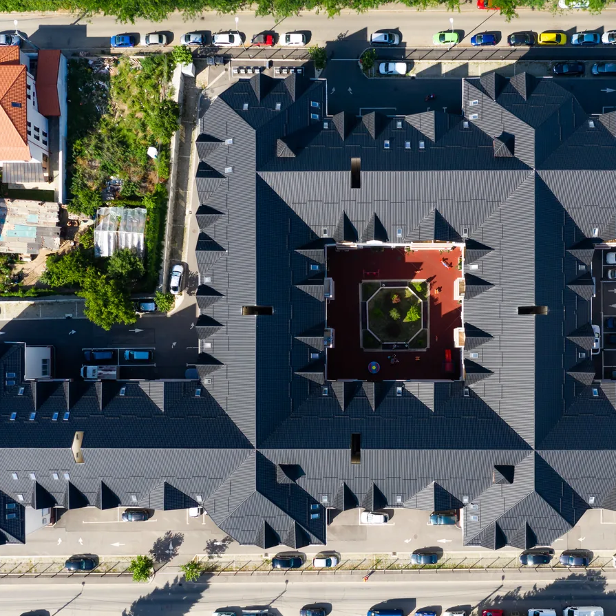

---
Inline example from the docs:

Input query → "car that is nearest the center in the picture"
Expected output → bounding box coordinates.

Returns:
[170,266,183,295]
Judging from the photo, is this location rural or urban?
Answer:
urban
